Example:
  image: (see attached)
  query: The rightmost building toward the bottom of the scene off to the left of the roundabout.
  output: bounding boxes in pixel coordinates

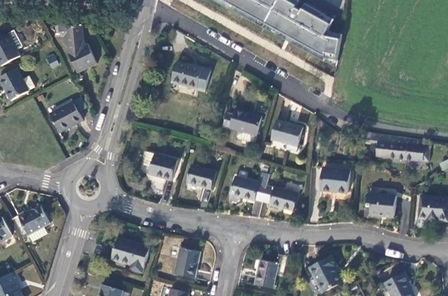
[19,202,52,241]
